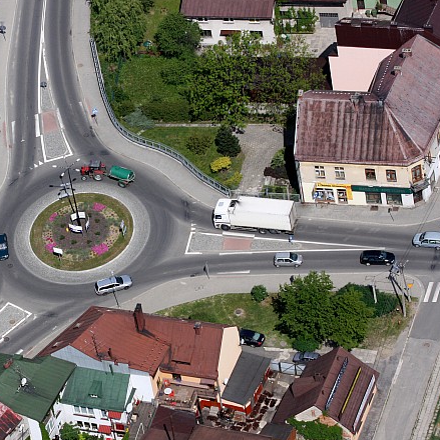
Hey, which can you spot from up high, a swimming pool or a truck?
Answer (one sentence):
Of the two, only a truck appears.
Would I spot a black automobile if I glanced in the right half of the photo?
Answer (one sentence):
Yes, there is a black automobile in the right half of the photo.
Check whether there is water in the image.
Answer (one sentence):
No, water can't be seen anywhere here.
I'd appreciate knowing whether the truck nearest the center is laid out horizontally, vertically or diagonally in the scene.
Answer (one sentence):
The truck nearest the center is laid out horizontally.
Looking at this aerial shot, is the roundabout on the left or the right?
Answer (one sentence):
The roundabout is on the left side of the image.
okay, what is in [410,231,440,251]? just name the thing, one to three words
vehicle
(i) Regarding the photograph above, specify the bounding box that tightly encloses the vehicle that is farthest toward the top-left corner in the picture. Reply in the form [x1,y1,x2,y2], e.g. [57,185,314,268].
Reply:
[78,160,109,184]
